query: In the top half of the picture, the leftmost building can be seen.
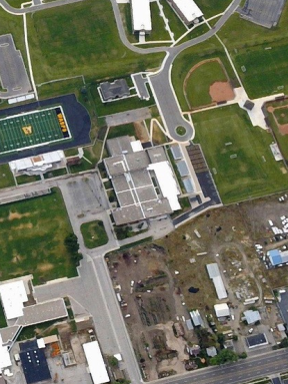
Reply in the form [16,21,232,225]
[99,78,130,101]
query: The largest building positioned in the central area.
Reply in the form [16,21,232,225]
[103,135,181,228]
